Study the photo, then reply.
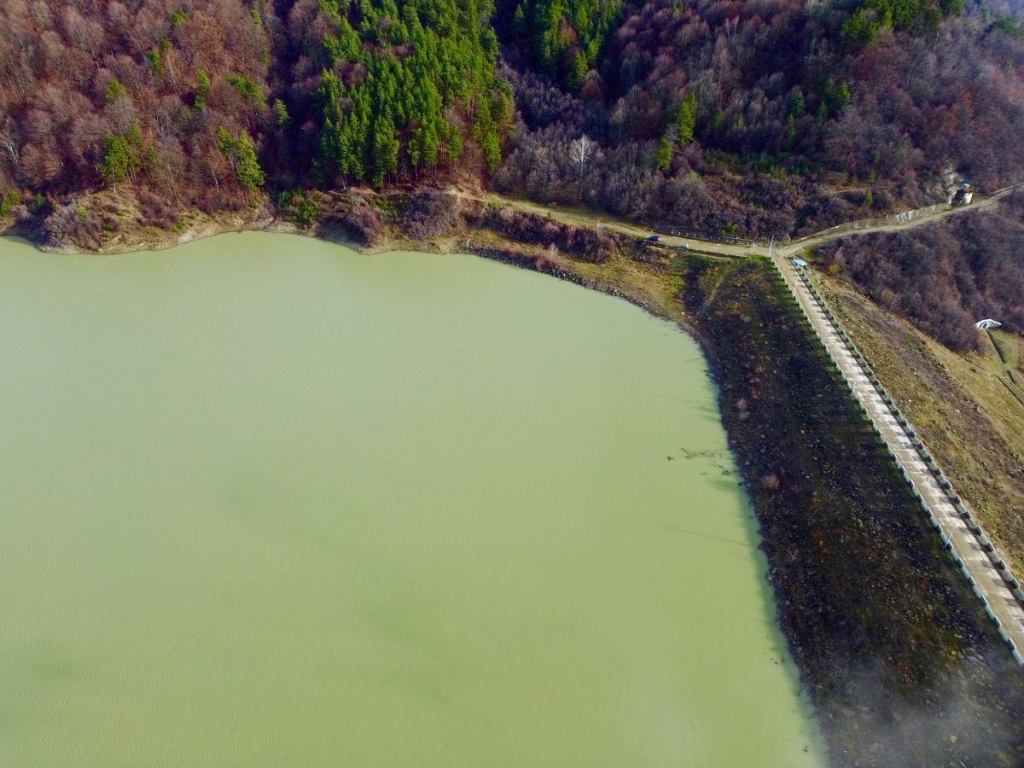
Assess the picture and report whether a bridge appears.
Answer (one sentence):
No, there is no bridge in the image.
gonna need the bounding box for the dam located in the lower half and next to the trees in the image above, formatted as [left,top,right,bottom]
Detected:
[663,255,1024,768]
